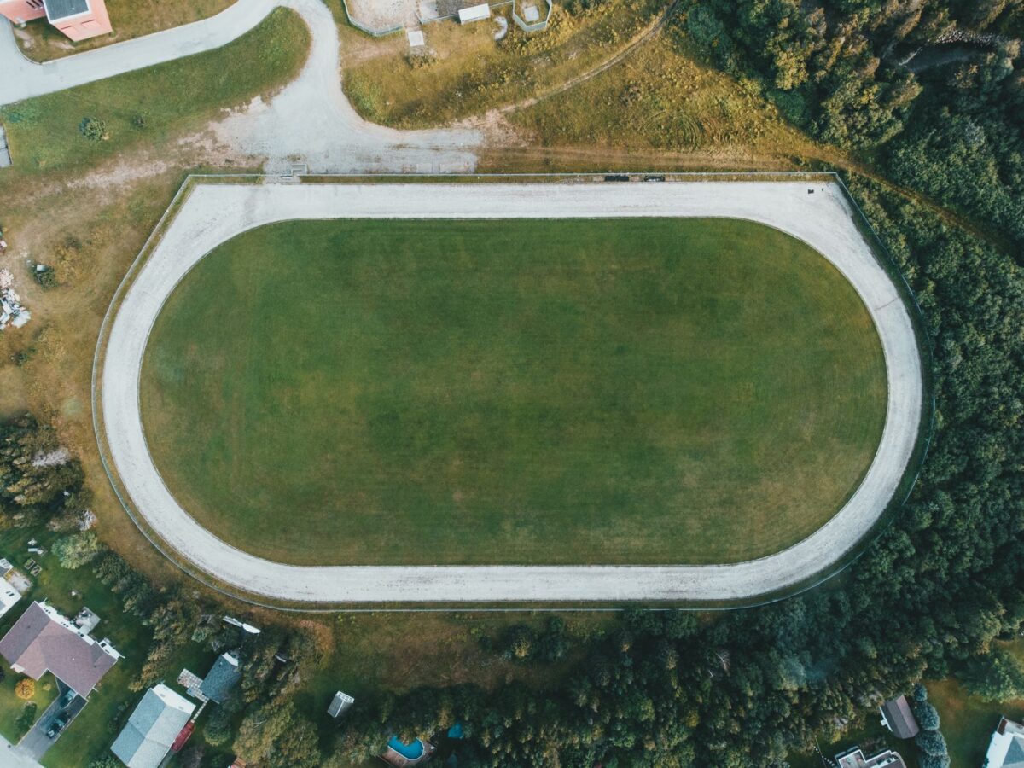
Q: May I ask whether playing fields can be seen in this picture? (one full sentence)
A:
Yes, there's a playing field down there.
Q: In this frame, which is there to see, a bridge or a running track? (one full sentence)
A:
The image shows a running track.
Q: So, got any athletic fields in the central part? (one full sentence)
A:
Yes, the scene does show an athletic field in the central part.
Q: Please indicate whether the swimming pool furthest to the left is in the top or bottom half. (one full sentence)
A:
It is in the bottom half that the swimming pool furthest to the left appears.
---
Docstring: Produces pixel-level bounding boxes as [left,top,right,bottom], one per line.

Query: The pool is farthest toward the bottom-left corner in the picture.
[387,725,423,759]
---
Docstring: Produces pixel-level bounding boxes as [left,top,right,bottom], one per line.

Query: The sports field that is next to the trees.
[140,218,887,565]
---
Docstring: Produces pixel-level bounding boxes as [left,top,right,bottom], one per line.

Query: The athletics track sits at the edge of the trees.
[102,181,923,602]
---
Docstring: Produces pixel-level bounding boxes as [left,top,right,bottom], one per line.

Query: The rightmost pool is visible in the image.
[446,718,465,741]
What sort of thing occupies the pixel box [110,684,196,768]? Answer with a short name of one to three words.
house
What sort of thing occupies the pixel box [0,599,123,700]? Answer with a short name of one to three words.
house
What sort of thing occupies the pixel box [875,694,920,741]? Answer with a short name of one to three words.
shed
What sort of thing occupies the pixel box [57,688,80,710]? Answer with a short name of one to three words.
car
